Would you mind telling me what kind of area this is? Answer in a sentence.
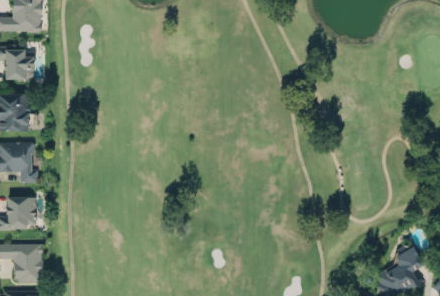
What you see here is a golf course.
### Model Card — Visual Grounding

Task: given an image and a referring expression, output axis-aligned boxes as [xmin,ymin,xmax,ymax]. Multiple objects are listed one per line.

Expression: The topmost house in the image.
[0,0,42,32]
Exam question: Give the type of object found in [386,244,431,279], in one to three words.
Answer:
house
